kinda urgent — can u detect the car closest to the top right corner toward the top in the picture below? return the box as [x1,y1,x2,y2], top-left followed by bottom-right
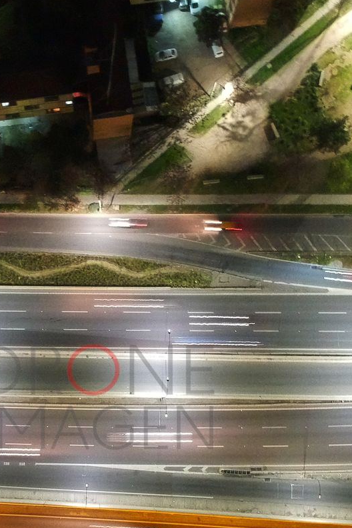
[210,40,224,61]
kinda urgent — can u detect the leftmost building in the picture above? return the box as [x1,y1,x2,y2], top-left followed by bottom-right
[0,58,86,126]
